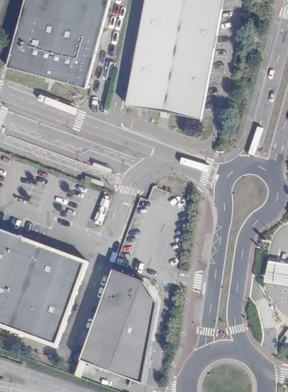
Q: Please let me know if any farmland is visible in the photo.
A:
No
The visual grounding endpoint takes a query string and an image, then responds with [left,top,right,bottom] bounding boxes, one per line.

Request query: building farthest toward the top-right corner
[124,0,226,122]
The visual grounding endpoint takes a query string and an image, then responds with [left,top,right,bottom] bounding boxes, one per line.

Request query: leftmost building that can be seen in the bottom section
[0,228,92,346]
